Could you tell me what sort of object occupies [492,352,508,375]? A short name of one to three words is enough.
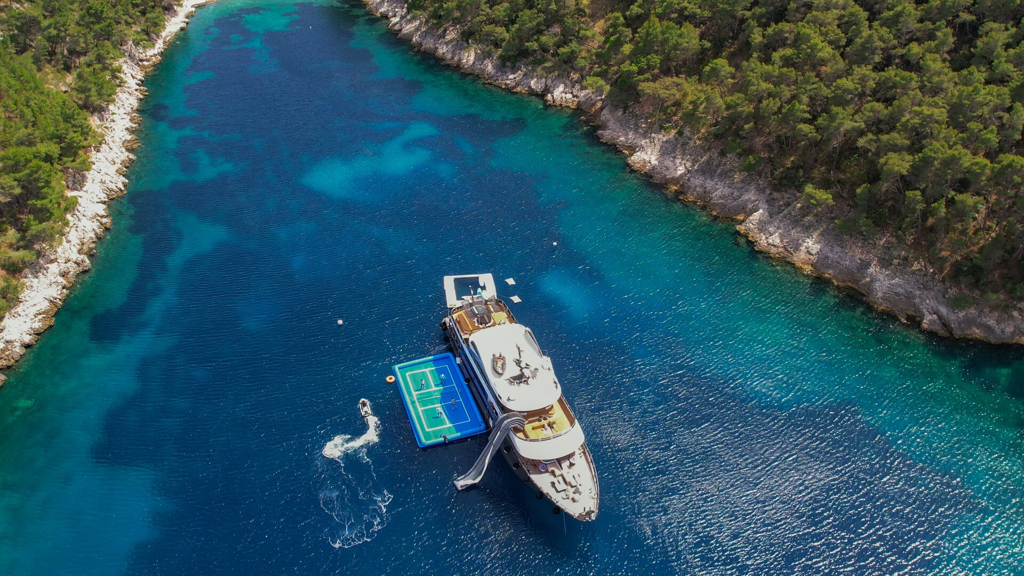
boat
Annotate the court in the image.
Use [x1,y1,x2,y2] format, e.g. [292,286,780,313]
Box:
[391,351,486,448]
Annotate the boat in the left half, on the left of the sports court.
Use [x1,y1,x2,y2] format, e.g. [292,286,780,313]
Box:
[359,399,371,419]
